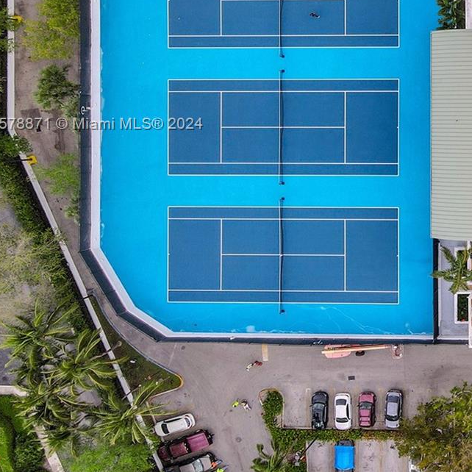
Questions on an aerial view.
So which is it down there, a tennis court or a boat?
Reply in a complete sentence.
Visible in the photo is a tennis court.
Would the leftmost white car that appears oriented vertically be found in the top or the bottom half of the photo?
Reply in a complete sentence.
The leftmost white car that appears oriented vertically sits in the bottom half of the picture.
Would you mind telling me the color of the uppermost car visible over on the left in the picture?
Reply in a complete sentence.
The uppermost car visible over on the left is white.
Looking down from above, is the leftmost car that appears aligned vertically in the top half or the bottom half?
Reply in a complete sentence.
It is in the bottom half that the leftmost car that appears aligned vertically appears.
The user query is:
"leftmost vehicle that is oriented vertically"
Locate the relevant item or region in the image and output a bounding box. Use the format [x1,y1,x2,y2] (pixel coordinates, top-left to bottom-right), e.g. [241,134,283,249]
[309,386,331,432]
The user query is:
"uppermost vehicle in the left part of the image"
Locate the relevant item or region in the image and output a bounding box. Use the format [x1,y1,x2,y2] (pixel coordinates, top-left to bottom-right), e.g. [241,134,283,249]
[155,411,198,438]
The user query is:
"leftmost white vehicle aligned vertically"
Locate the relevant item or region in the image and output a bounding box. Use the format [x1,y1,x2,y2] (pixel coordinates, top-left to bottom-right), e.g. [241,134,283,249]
[332,387,354,432]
